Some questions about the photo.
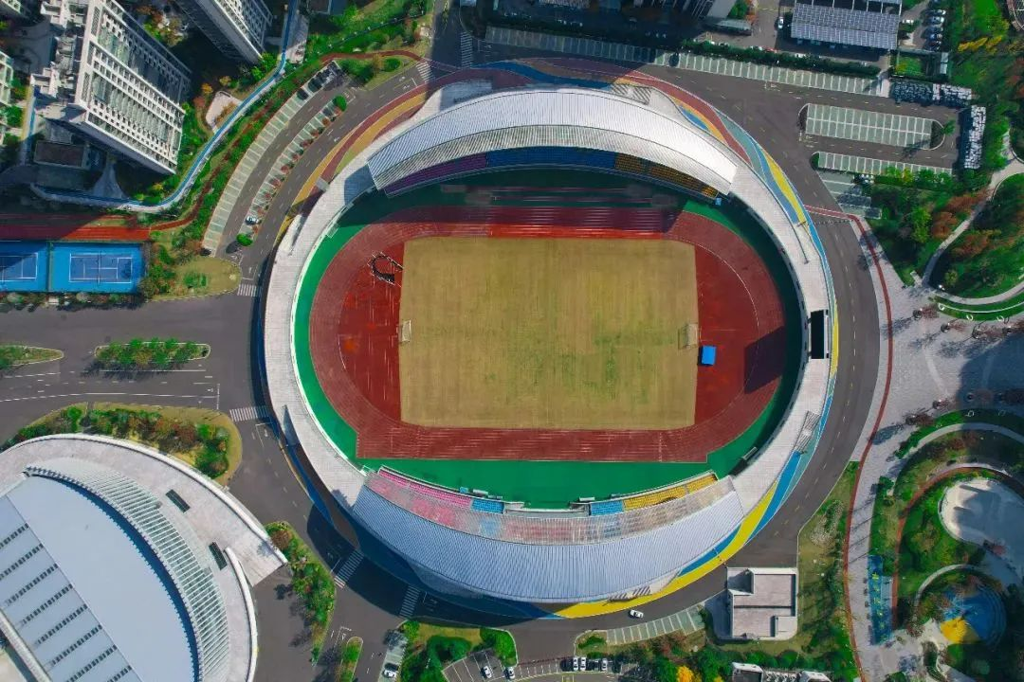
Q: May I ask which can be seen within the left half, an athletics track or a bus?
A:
athletics track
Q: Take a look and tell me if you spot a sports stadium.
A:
Yes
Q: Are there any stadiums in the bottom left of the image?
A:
Yes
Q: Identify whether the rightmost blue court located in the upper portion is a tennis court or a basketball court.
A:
tennis court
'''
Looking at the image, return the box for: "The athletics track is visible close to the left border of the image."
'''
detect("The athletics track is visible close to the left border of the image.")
[0,214,150,239]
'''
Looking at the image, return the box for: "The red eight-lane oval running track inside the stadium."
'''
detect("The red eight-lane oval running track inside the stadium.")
[310,185,785,461]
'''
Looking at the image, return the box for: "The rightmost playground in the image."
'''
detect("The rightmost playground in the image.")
[940,584,1011,650]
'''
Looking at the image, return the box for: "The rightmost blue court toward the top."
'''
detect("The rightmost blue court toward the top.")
[46,241,143,292]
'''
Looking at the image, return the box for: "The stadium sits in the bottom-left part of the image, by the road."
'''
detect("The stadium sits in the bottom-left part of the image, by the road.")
[0,430,291,682]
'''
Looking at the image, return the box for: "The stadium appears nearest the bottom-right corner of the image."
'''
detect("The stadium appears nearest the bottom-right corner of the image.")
[264,79,831,605]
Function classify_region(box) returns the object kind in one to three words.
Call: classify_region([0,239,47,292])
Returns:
tennis court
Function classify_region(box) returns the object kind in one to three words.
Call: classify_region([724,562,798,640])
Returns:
building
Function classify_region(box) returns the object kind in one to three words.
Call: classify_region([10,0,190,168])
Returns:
building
